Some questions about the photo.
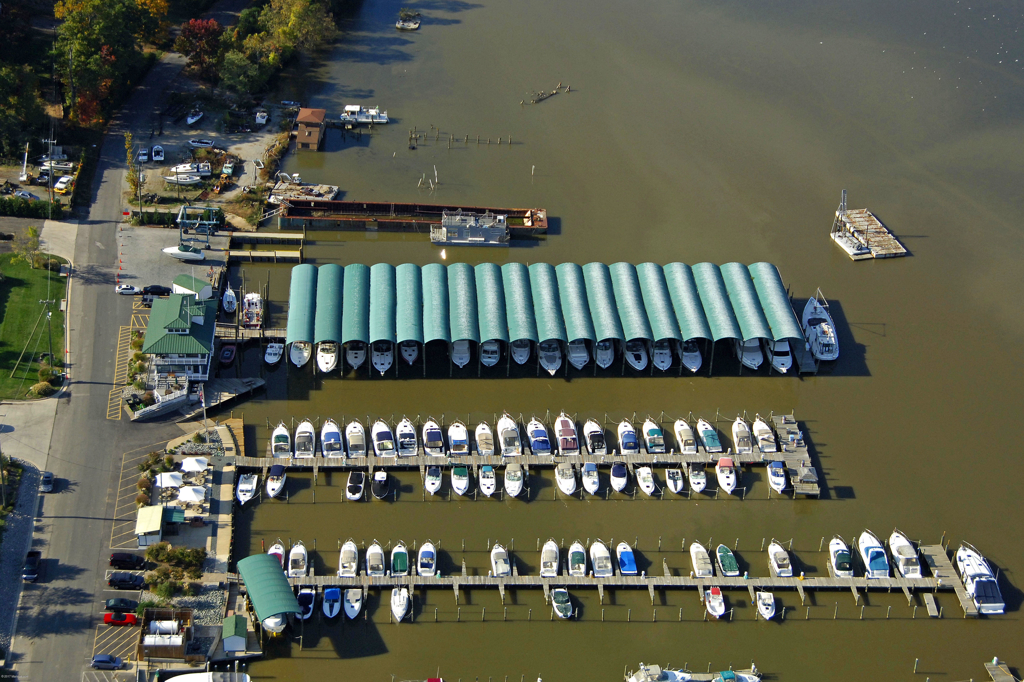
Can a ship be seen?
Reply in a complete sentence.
Yes, the image includes a ship.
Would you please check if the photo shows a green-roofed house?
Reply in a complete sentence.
Yes, there is a green-roofed house in the image.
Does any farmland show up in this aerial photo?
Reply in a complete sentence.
No, the picture contains no farmland.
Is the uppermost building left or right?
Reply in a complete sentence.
It is on the left.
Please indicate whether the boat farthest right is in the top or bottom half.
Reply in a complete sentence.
The bottom half of the photo is where the boat farthest right is.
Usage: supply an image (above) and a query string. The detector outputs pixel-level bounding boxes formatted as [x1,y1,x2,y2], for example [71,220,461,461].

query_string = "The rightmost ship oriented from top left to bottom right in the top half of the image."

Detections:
[836,209,906,260]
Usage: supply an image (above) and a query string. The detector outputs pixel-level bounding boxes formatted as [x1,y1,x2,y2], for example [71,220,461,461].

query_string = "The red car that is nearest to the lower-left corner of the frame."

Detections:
[103,613,138,628]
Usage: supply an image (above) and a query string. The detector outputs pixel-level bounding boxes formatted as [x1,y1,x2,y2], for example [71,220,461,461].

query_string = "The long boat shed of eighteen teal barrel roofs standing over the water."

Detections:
[286,261,807,378]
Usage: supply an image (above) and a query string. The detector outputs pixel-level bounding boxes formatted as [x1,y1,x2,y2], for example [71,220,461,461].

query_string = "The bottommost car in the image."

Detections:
[90,656,124,672]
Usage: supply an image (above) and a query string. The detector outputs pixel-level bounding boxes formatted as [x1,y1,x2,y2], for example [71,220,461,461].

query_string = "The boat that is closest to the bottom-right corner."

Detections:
[957,537,1005,614]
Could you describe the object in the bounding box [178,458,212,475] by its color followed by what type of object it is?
white tent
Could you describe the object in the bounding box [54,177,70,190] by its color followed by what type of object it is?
white vehicle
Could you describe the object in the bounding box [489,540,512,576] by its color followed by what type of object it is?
white boat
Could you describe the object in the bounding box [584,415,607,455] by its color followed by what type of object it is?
white boat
